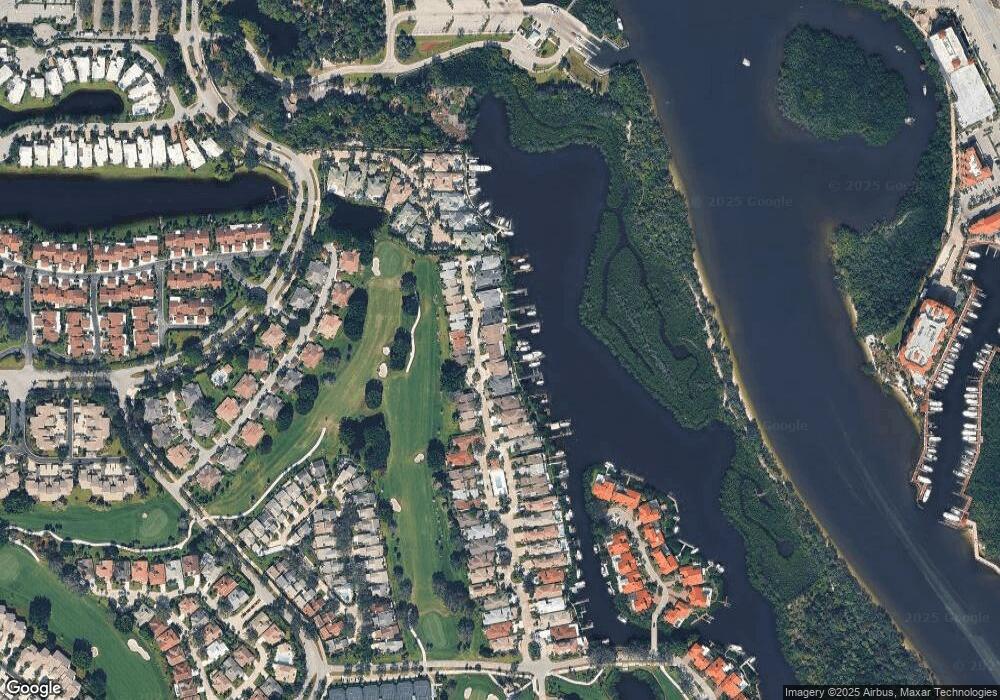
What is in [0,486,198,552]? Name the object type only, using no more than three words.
golf course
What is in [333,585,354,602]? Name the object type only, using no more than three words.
swimming pool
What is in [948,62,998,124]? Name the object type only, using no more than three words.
building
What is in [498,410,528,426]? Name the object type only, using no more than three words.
house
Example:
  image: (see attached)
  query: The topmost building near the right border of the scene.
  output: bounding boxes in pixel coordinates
[931,24,979,74]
